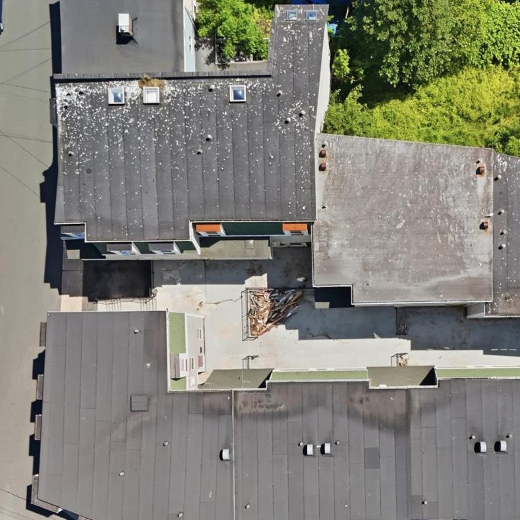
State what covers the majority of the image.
buildings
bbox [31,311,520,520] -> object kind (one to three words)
building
